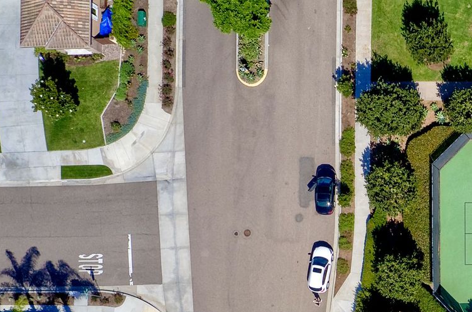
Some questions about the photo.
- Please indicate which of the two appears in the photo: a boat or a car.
car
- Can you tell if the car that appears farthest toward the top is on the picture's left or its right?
right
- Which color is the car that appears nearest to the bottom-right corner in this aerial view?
white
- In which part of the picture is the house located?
top left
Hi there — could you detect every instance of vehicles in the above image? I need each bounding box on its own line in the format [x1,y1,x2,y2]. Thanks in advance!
[307,241,334,291]
[305,164,336,214]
